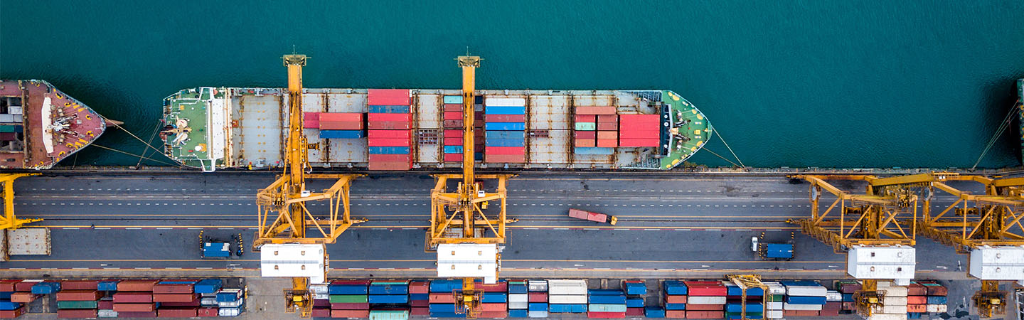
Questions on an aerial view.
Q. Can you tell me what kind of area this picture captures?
port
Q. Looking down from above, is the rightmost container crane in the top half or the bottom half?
bottom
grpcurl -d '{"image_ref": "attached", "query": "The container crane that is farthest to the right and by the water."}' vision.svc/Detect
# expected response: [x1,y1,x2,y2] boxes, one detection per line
[893,172,1024,320]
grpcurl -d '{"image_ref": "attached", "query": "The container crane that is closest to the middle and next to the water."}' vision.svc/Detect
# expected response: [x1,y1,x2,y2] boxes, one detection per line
[422,48,518,319]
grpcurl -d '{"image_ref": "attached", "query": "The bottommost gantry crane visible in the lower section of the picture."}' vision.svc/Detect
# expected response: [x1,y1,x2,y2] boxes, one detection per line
[724,275,770,320]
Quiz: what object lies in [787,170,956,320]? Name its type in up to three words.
container crane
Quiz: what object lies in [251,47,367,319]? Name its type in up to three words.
container crane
